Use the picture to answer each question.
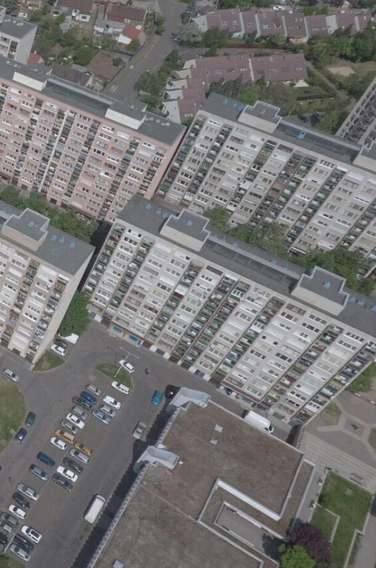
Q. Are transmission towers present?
No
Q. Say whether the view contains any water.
No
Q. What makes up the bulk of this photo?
buildings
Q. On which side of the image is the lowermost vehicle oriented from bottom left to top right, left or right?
left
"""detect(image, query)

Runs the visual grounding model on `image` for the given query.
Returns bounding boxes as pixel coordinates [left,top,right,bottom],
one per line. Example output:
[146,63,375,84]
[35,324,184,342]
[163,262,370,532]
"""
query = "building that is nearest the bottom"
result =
[93,387,316,568]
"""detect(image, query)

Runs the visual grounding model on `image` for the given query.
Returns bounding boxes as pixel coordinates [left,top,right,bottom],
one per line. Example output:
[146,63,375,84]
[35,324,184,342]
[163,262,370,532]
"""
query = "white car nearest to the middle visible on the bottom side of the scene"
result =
[115,359,137,374]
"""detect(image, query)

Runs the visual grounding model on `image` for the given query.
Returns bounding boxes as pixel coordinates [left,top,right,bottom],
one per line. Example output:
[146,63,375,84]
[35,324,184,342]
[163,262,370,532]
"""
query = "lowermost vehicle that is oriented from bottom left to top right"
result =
[83,498,105,522]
